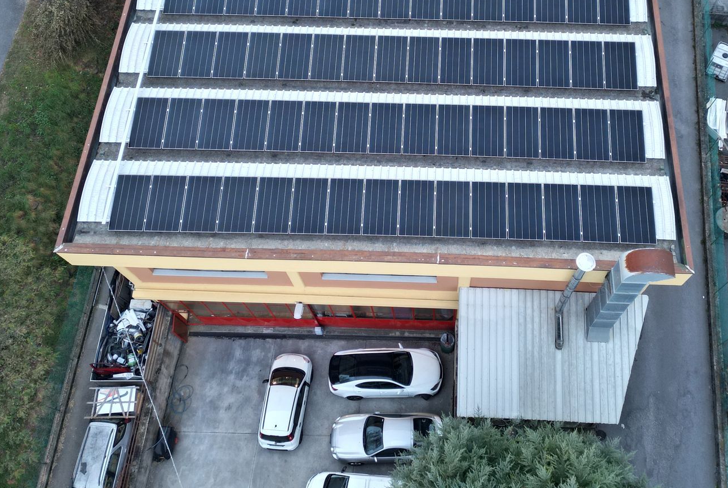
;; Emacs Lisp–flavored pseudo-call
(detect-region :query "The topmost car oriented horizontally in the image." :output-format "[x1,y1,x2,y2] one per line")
[328,345,444,402]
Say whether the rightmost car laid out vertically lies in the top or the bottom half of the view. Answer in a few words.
bottom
